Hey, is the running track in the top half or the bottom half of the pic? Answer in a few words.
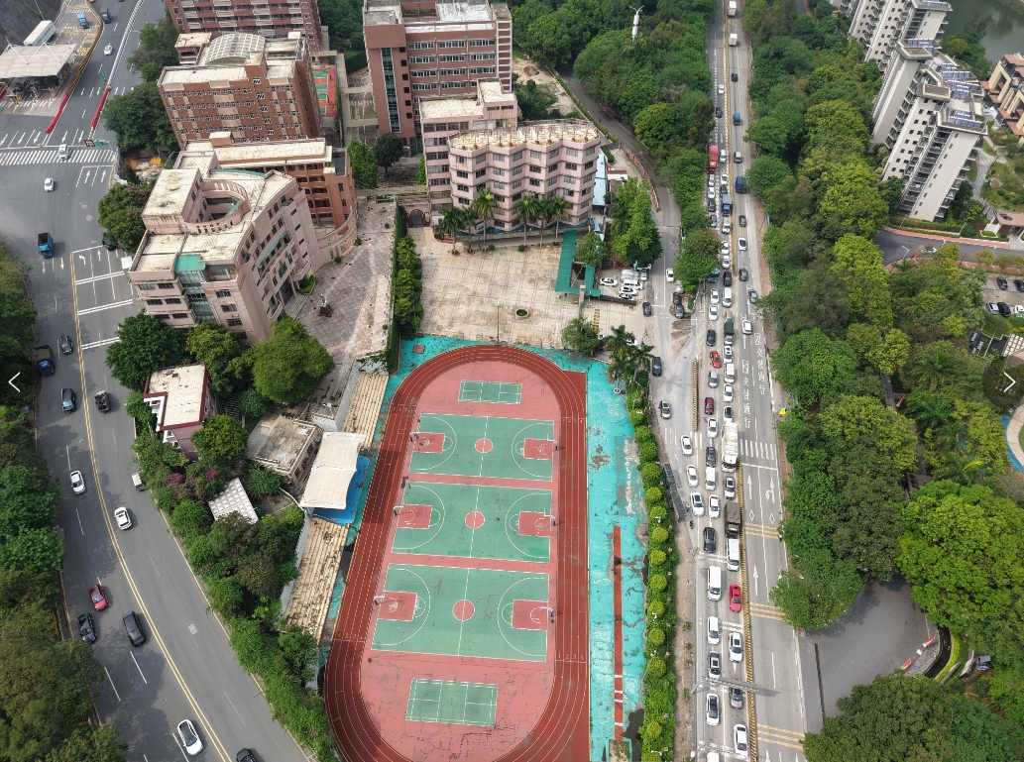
bottom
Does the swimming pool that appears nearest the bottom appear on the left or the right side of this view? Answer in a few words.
right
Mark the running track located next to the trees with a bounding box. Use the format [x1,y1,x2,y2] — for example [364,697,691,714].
[326,345,590,762]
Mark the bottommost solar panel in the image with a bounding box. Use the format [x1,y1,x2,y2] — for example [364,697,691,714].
[943,97,982,132]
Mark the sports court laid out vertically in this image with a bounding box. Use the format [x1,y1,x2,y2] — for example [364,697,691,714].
[311,65,332,116]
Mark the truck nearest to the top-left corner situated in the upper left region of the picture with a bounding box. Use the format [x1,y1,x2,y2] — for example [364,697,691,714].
[23,20,52,44]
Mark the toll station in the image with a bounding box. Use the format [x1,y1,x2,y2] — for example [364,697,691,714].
[0,21,95,96]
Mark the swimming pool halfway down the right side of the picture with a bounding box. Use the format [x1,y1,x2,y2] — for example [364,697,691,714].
[952,421,1024,480]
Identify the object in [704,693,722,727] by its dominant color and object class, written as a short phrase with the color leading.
white car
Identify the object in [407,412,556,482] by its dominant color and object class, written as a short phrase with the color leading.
green basketball court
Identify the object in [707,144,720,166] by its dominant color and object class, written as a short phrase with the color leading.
red vehicle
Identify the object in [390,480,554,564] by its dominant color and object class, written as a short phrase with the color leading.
green basketball court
